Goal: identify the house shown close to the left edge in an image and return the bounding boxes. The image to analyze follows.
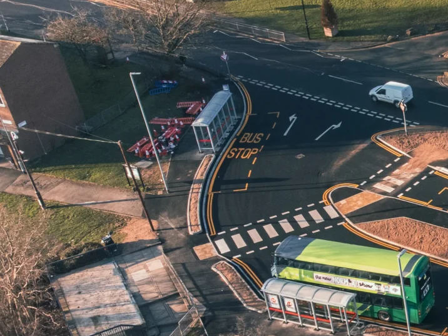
[0,29,82,167]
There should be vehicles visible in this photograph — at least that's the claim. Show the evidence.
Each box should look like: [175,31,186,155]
[367,82,418,112]
[267,229,434,321]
